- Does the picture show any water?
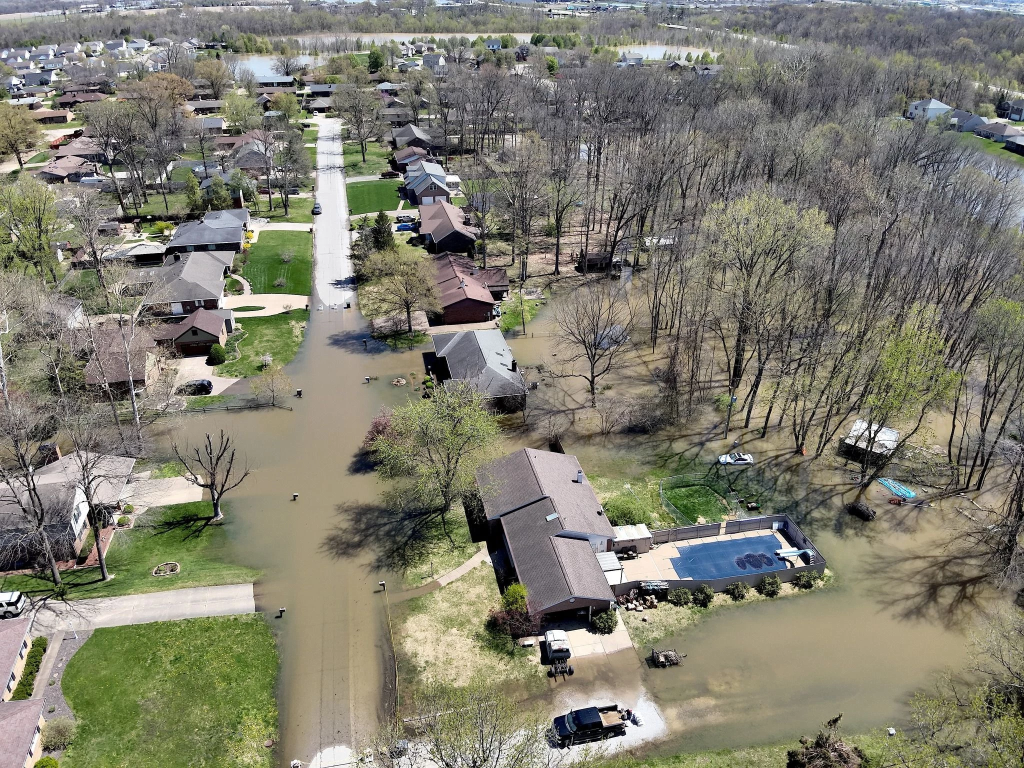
Yes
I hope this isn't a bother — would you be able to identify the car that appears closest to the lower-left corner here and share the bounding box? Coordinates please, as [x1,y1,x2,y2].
[0,586,35,615]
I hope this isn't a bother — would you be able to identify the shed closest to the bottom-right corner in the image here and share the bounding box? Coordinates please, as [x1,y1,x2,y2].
[845,420,900,471]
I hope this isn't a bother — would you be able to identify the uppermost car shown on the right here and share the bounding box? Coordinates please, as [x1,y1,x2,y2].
[717,450,756,466]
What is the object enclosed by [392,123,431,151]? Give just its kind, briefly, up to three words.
house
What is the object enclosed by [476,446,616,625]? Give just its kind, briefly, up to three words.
house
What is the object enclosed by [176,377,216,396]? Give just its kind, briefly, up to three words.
car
